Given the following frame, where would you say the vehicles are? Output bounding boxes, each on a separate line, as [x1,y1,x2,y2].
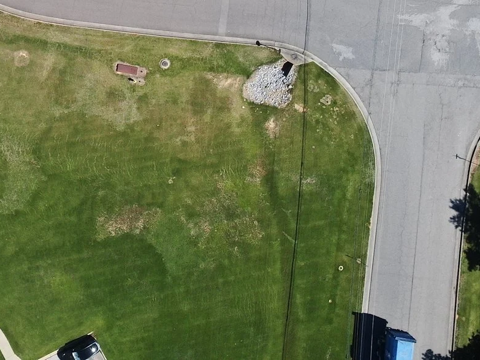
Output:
[378,322,414,360]
[61,338,103,360]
